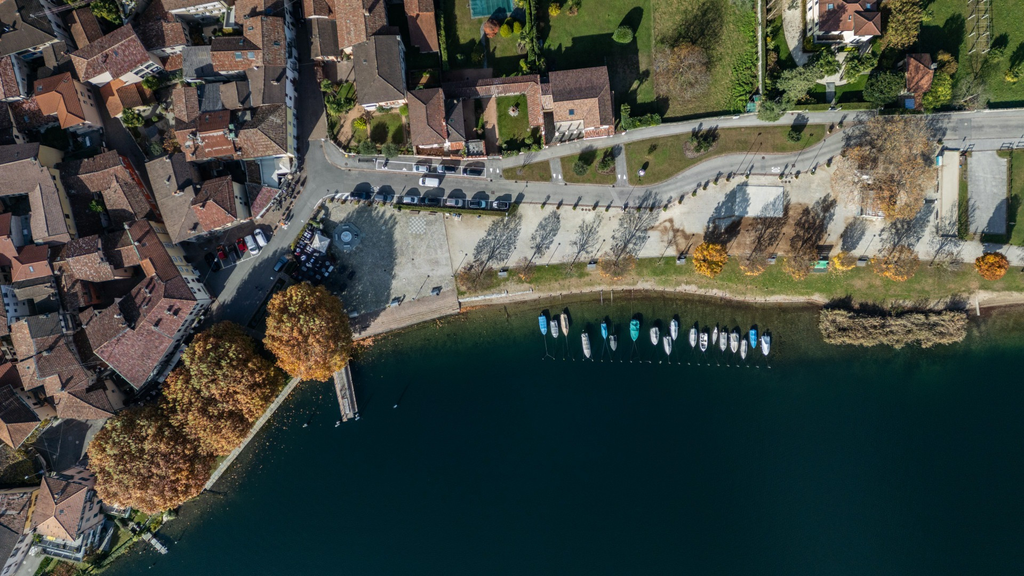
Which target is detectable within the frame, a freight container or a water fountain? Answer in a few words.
water fountain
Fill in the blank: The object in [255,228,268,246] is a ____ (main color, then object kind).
white vehicle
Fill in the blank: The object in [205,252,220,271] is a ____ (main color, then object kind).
black car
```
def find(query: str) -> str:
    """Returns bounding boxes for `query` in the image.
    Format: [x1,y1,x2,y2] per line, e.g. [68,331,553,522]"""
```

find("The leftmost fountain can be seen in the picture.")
[334,223,360,249]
